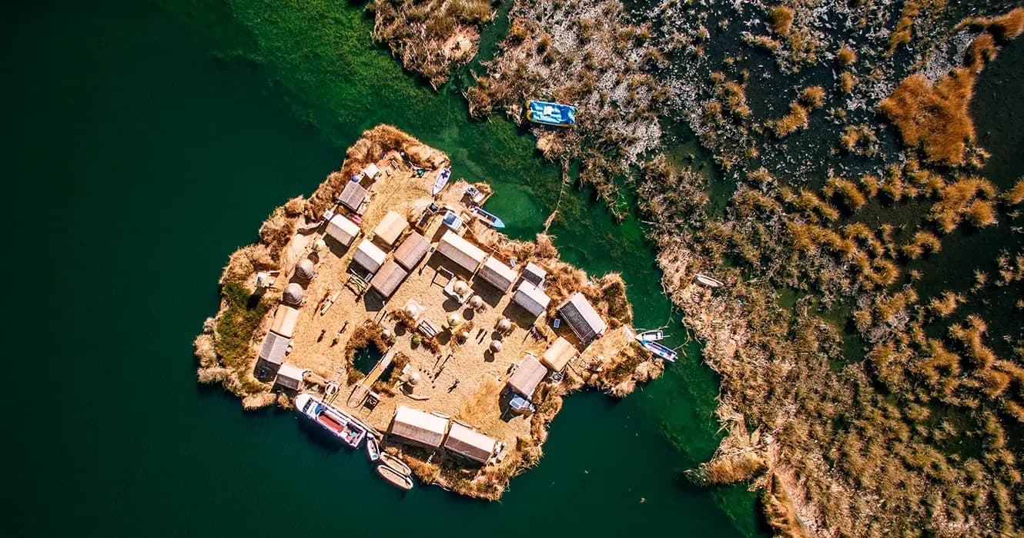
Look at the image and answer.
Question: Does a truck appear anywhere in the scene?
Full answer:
No, the frame has no truck in it.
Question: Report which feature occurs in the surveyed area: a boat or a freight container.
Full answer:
Visible in the photo is a boat.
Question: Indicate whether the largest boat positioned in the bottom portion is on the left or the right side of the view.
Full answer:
It is on the left.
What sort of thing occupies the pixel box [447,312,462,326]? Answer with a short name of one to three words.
umbrella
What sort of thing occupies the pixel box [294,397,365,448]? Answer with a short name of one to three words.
boat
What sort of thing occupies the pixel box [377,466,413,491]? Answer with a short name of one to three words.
boat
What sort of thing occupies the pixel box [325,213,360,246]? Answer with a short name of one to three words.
building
